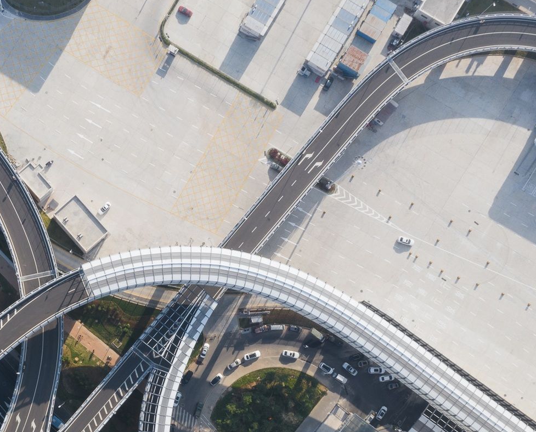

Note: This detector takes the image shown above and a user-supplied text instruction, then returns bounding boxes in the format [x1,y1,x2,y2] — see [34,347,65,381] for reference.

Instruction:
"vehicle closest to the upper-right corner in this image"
[392,6,415,42]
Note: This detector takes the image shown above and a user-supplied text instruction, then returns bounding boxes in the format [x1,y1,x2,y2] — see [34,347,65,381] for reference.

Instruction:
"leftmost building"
[19,163,53,203]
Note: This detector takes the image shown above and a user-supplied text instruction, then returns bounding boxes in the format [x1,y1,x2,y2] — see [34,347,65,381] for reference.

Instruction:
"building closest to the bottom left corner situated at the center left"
[55,196,108,255]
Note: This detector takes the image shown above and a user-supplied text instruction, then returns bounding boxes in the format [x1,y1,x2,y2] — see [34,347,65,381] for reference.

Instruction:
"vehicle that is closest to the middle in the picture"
[265,158,282,172]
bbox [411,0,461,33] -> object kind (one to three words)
building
